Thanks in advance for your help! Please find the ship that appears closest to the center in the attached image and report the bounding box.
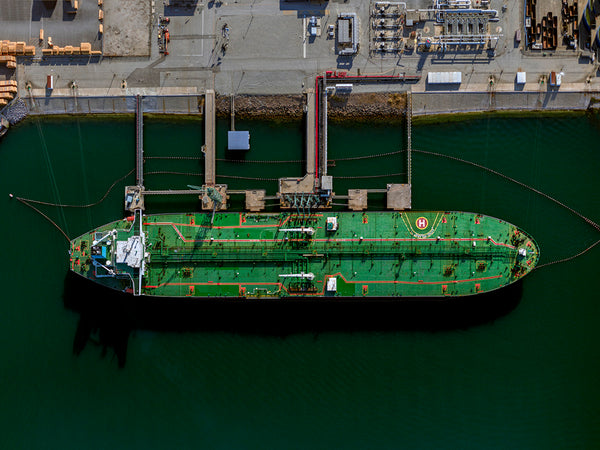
[67,209,540,298]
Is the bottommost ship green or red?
green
